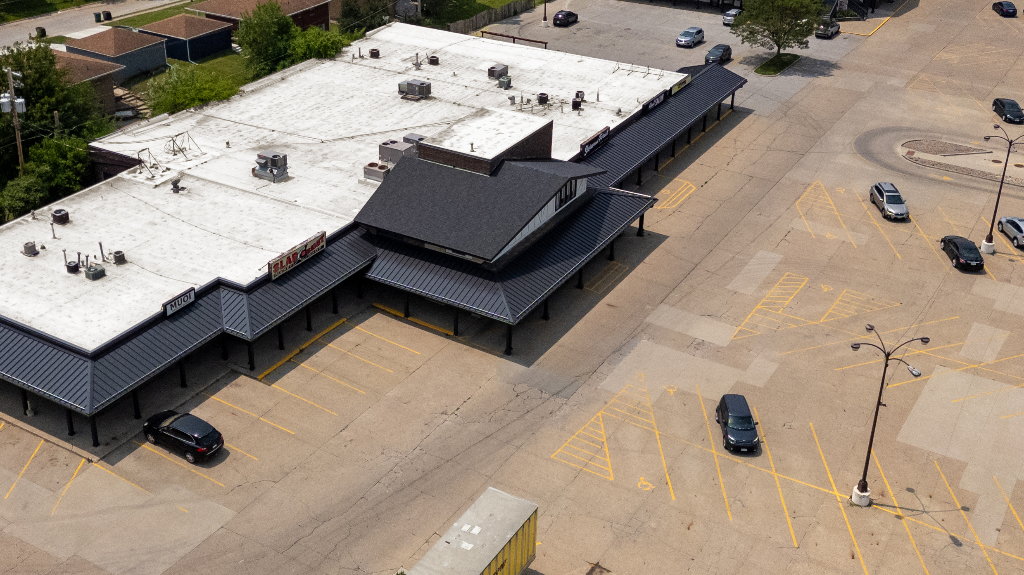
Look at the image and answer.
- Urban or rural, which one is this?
urban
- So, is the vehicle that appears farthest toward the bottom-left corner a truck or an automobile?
automobile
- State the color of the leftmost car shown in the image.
black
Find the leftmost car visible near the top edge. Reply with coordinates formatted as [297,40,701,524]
[552,9,581,27]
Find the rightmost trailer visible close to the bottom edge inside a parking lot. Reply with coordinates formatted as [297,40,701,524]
[404,487,539,575]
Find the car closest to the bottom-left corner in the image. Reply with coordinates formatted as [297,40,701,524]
[139,409,225,462]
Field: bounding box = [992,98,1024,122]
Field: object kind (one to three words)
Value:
car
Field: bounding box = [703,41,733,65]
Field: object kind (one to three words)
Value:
car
